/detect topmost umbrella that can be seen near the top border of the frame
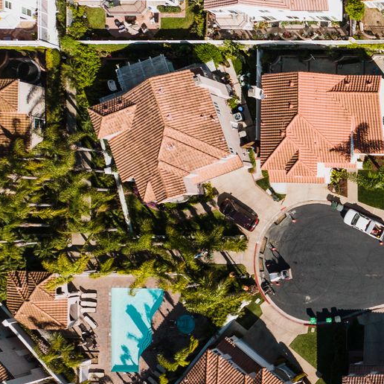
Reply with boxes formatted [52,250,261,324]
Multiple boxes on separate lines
[122,17,145,38]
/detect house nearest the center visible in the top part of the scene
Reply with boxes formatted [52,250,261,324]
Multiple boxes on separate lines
[87,67,250,213]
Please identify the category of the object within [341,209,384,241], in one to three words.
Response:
truck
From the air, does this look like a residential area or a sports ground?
residential area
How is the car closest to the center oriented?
diagonally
